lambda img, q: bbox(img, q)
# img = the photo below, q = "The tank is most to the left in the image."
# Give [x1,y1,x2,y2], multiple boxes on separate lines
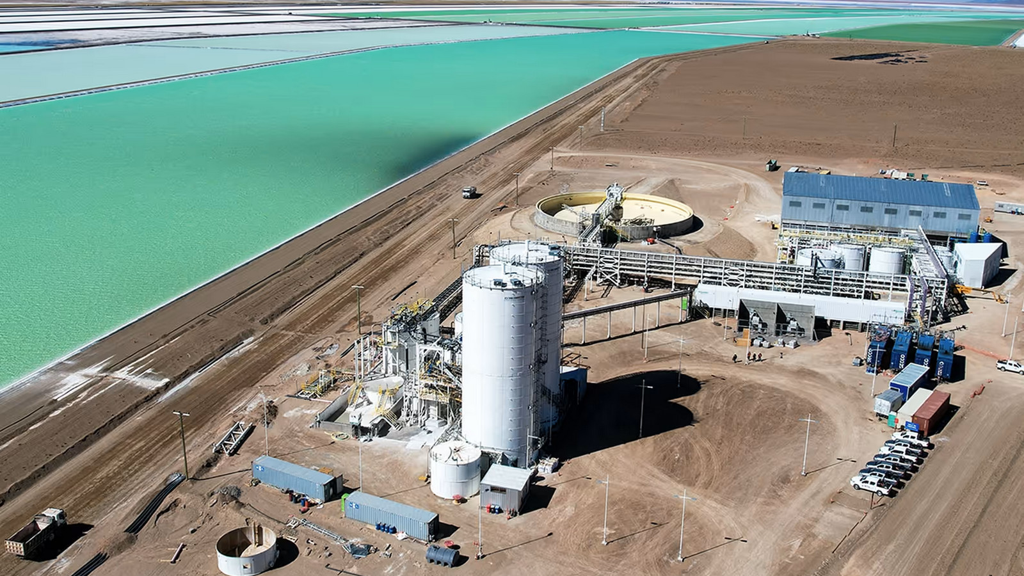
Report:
[217,516,276,575]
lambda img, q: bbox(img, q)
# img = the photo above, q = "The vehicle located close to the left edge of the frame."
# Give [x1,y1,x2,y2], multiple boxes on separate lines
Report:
[4,504,76,559]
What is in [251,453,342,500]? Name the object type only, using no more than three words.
shipping container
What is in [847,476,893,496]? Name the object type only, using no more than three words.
vehicle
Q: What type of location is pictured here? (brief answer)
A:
industrial area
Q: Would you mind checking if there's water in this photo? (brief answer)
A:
Yes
